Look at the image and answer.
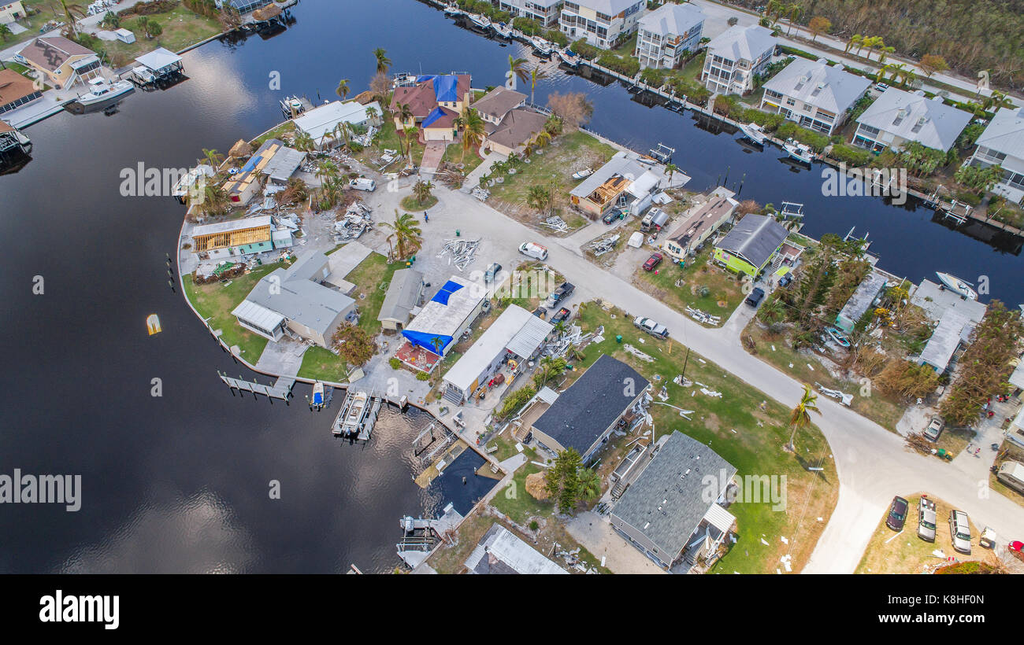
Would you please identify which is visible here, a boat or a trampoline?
boat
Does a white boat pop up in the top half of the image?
Yes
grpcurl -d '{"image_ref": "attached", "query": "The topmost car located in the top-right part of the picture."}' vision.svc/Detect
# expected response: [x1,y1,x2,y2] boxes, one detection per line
[775,43,792,56]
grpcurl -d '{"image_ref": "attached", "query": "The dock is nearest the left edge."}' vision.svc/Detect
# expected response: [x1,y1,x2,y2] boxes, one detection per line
[212,365,295,401]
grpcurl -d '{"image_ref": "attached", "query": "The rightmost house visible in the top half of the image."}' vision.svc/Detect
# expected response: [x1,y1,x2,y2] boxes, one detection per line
[965,106,1024,190]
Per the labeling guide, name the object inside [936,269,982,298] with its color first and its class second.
white boat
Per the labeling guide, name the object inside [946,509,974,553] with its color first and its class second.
white car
